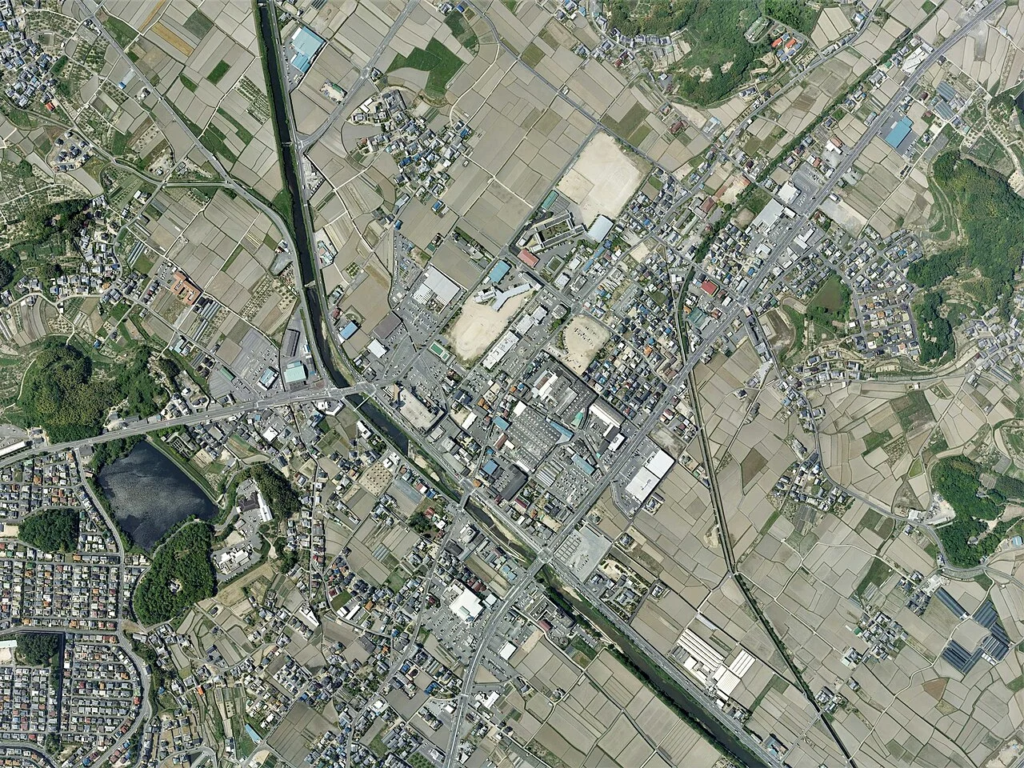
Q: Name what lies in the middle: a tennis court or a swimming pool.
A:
swimming pool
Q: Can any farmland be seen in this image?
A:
Yes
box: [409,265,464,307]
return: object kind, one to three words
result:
house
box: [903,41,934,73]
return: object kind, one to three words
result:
building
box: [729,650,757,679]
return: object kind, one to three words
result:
shed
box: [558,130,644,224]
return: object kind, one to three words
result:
sports field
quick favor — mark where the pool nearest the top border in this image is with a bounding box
[546,254,565,274]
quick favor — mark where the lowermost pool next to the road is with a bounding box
[429,341,452,362]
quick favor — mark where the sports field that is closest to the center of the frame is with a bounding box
[563,315,609,374]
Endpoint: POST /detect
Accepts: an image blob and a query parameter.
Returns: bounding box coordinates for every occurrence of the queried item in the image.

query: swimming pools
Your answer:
[546,254,565,274]
[429,341,452,362]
